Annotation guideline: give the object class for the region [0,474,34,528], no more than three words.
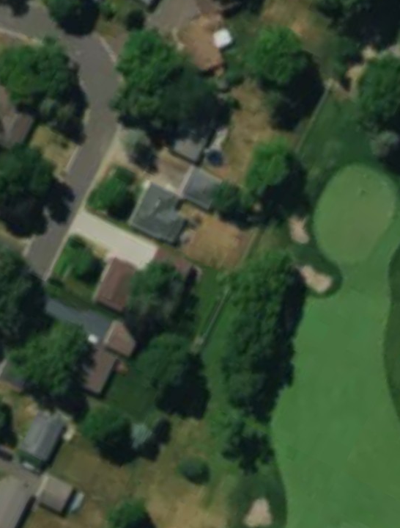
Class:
house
